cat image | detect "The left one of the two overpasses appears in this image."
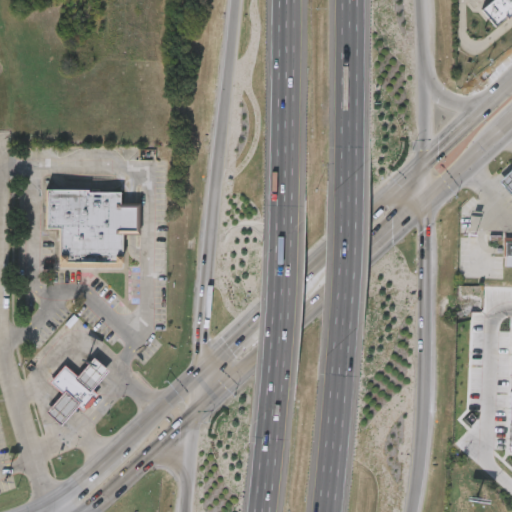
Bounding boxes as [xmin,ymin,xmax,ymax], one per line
[246,172,306,476]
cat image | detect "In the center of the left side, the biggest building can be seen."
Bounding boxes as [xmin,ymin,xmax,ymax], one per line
[46,190,140,268]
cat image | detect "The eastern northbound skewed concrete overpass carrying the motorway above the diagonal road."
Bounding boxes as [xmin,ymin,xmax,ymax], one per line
[316,113,371,406]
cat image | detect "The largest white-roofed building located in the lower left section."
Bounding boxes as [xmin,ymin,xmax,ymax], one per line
[50,366,98,411]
